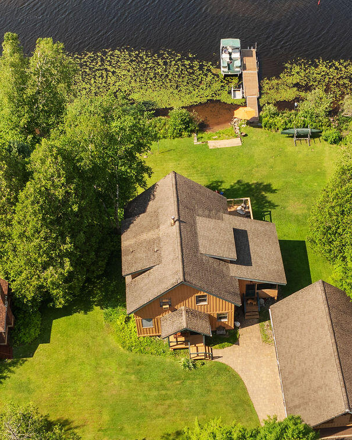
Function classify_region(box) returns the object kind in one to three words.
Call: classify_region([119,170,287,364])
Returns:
house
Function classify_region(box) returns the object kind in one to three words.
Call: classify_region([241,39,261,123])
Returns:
pier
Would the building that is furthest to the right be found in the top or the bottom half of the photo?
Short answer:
bottom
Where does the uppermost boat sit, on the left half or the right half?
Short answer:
right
